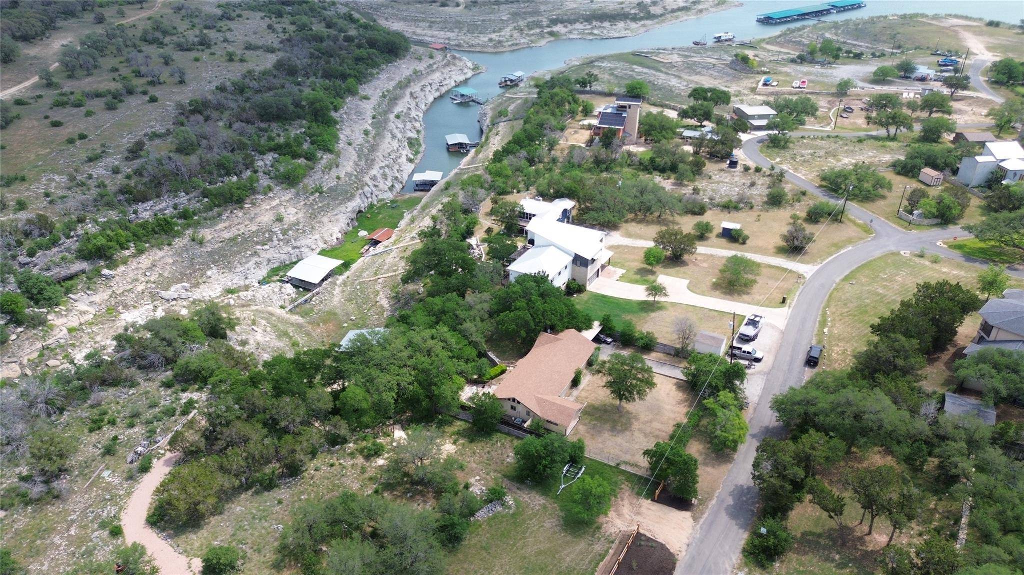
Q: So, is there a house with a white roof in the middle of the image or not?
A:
Yes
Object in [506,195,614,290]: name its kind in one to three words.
house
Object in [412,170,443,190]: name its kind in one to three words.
pier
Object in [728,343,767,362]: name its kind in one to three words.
vehicle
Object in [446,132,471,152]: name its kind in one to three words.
pier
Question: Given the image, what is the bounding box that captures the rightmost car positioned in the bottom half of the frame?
[807,345,824,364]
